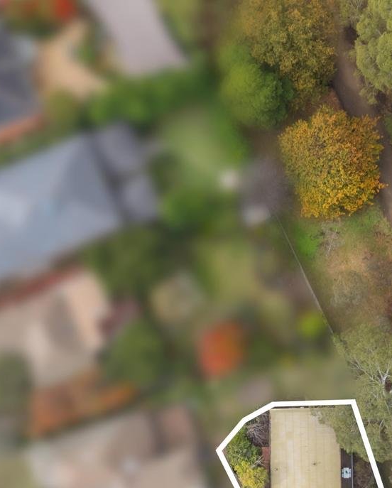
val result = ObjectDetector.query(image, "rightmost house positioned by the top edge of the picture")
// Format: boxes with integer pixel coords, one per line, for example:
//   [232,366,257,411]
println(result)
[86,0,188,77]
